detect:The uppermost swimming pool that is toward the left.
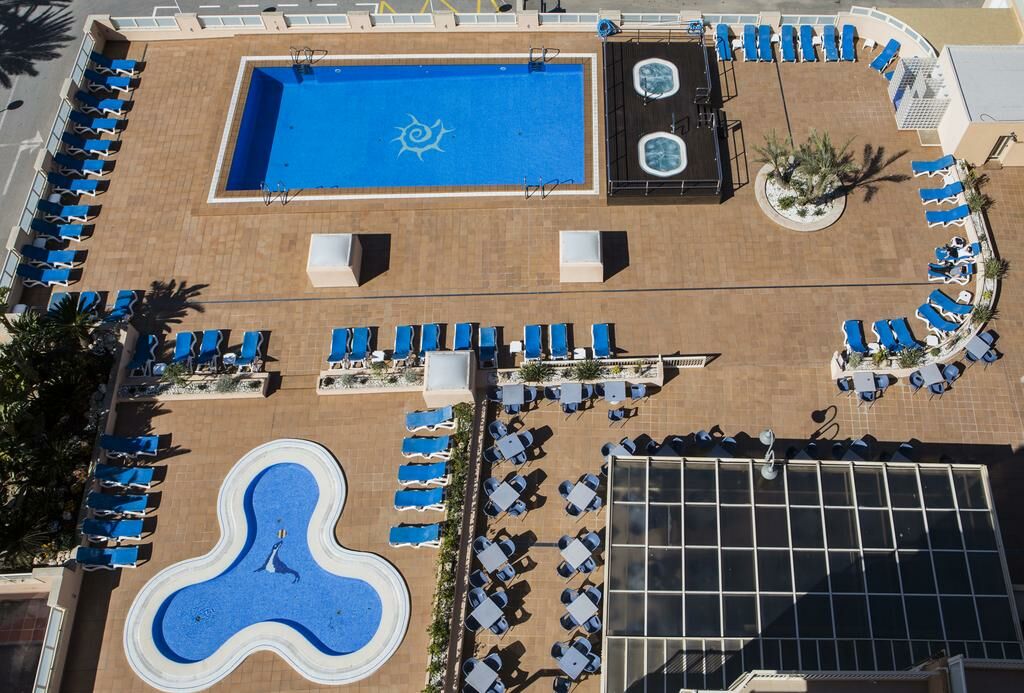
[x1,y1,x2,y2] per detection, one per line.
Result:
[208,52,600,203]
